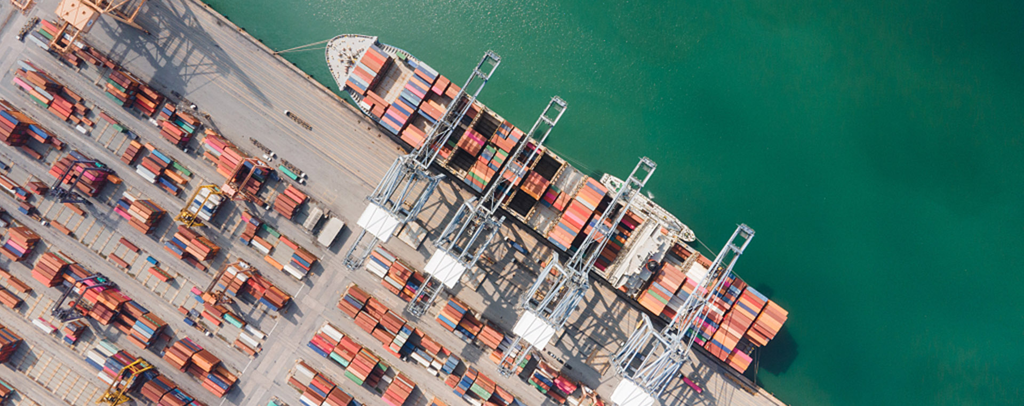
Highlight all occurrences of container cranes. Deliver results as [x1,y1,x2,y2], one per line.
[0,0,44,34]
[220,157,272,203]
[97,359,155,406]
[51,273,112,321]
[174,184,225,230]
[43,0,153,66]
[340,49,503,273]
[607,222,756,406]
[50,158,111,205]
[405,93,569,319]
[495,157,658,381]
[201,258,254,306]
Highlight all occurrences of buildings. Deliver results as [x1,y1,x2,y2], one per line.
[304,208,324,230]
[318,217,345,246]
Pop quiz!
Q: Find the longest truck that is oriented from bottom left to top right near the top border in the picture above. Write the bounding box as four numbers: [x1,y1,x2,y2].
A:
[17,15,38,41]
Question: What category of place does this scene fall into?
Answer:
port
